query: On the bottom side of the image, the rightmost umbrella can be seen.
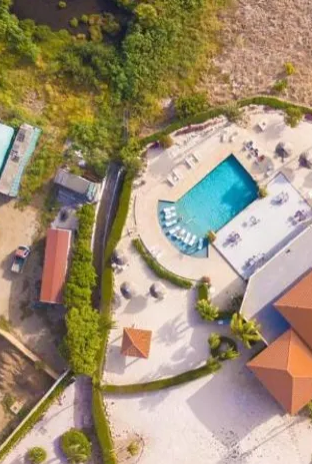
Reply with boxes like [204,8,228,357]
[151,281,169,299]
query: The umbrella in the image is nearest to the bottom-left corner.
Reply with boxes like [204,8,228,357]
[121,281,139,299]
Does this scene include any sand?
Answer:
Yes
